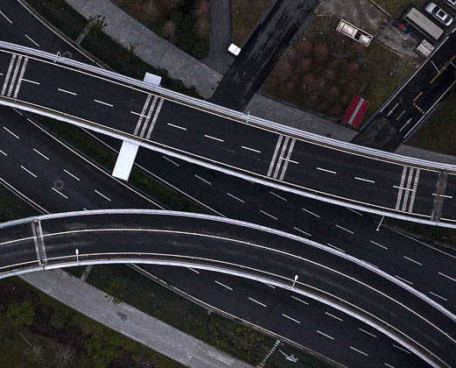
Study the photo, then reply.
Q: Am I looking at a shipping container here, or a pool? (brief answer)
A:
shipping container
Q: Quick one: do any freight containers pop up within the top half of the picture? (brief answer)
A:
Yes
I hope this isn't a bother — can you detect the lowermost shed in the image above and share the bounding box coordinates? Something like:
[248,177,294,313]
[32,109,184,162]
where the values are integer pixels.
[342,96,369,126]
